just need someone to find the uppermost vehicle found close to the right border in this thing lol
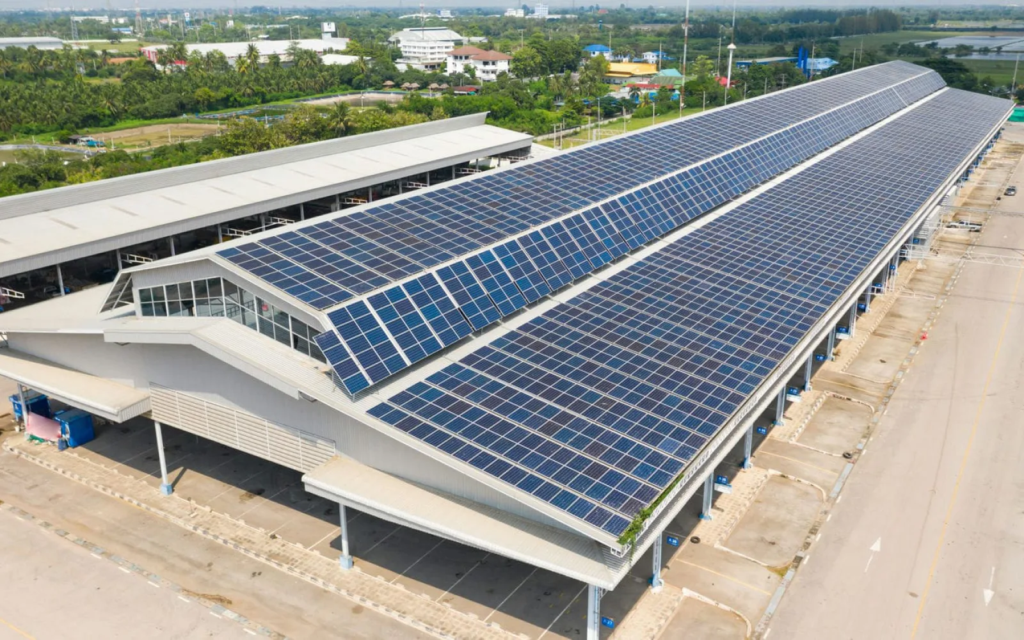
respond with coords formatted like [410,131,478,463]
[1005,185,1021,198]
